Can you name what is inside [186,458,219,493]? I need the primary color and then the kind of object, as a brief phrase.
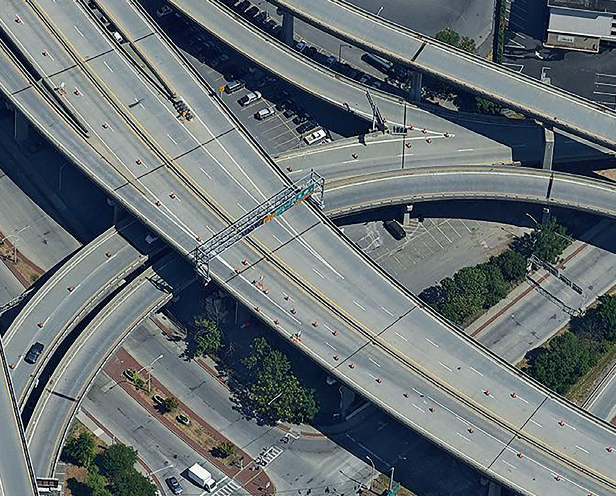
white truck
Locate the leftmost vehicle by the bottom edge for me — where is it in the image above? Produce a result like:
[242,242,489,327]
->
[166,477,181,495]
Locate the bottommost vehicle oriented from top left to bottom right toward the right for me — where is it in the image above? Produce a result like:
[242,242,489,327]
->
[386,218,404,239]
